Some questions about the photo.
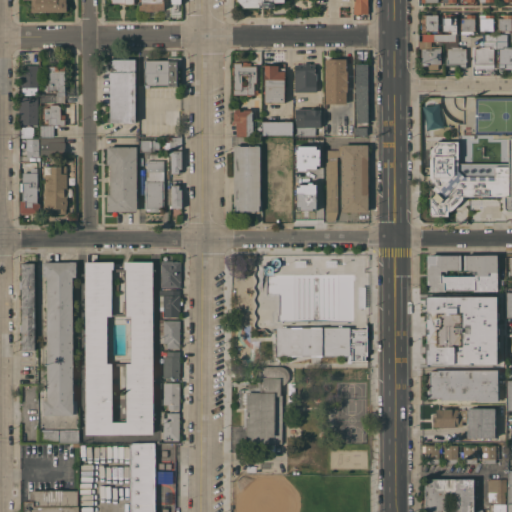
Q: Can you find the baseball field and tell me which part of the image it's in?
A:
bottom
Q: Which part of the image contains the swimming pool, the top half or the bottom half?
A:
bottom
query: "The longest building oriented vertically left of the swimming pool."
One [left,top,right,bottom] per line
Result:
[40,263,78,430]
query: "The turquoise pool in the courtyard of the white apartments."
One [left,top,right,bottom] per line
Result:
[108,317,130,363]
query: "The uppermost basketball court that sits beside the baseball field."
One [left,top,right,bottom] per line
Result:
[336,380,367,443]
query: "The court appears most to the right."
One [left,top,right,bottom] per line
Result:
[476,98,512,136]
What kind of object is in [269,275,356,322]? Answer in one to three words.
building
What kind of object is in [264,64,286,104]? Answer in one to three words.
building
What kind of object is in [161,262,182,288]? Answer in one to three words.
house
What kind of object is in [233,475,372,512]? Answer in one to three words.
baseball field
